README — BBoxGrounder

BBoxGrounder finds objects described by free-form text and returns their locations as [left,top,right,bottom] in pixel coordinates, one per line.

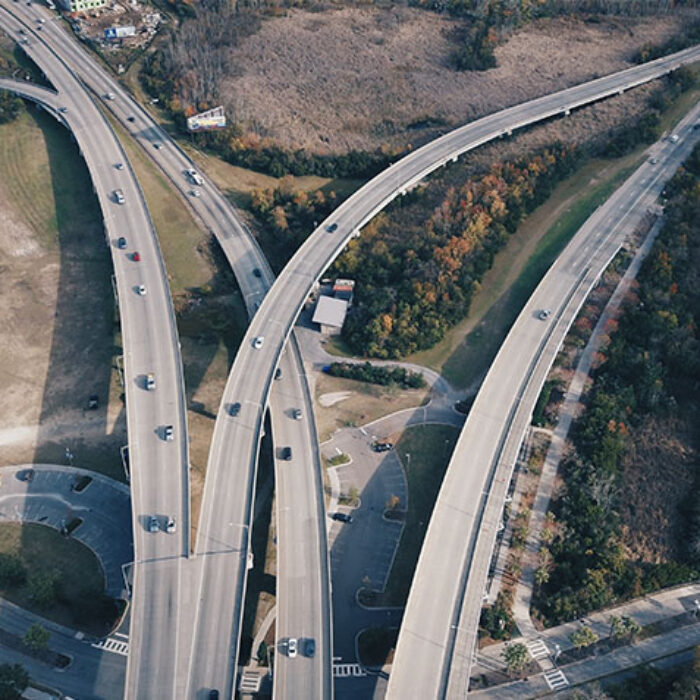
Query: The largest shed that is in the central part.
[312,295,348,338]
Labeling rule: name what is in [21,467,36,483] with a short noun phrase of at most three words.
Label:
car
